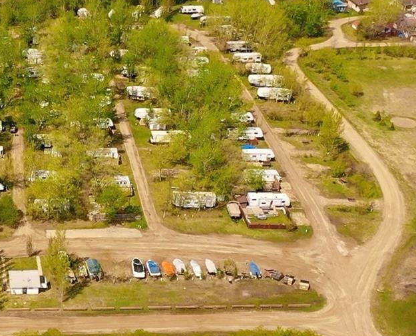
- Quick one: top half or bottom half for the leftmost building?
bottom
